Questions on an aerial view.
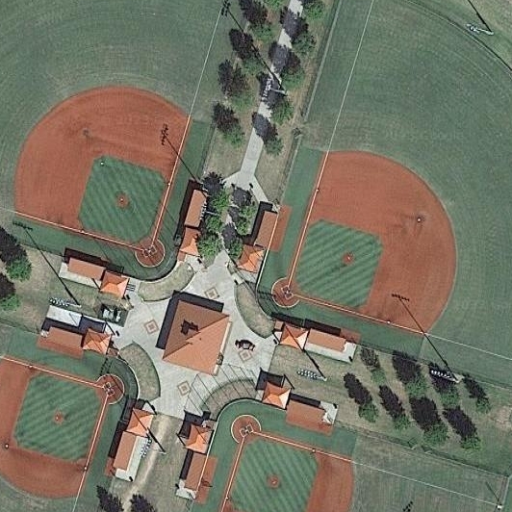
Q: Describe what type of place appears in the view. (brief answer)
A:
sports ground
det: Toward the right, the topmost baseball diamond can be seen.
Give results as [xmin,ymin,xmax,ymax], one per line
[257,0,512,389]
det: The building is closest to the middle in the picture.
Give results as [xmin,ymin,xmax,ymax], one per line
[238,245,268,273]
